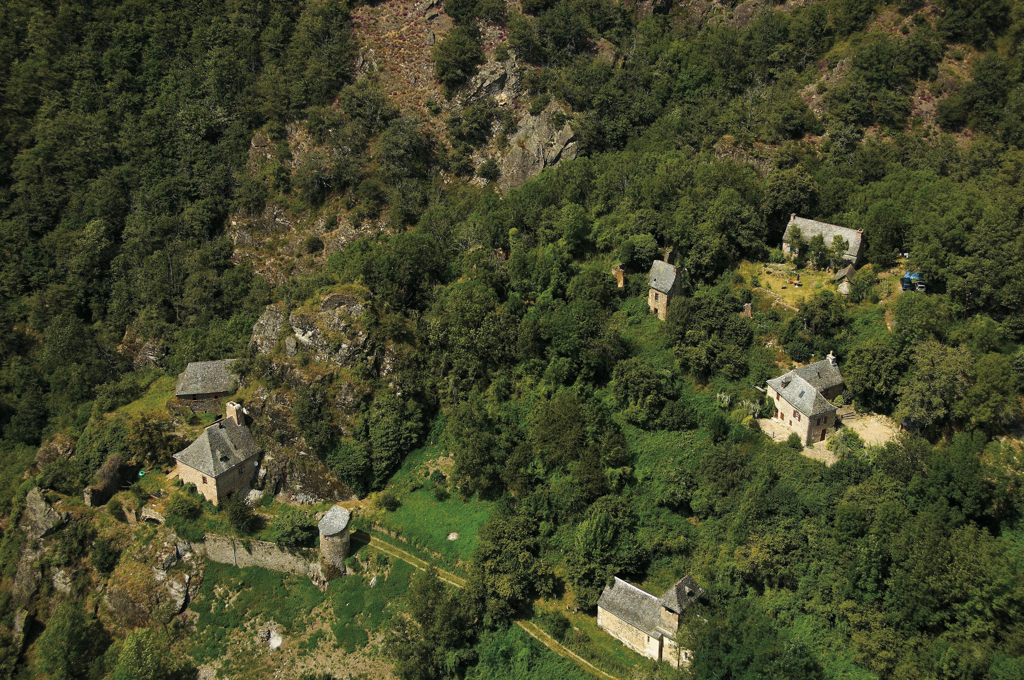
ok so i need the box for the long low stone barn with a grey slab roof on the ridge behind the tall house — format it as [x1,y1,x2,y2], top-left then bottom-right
[166,359,233,412]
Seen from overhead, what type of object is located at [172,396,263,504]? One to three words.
house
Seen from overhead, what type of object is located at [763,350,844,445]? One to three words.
house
